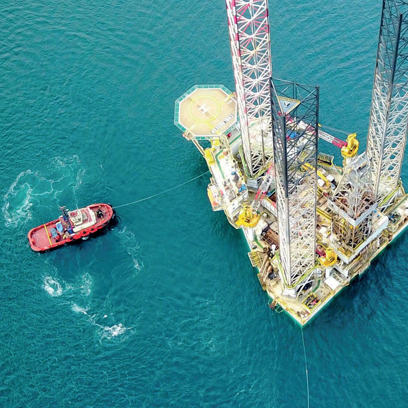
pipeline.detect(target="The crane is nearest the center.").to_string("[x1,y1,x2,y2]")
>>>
[240,149,282,245]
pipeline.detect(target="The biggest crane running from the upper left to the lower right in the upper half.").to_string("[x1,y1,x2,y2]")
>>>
[282,111,361,177]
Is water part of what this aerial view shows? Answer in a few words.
Yes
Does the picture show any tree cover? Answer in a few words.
No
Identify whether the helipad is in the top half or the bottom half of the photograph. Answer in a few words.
top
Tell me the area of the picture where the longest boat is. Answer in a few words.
left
